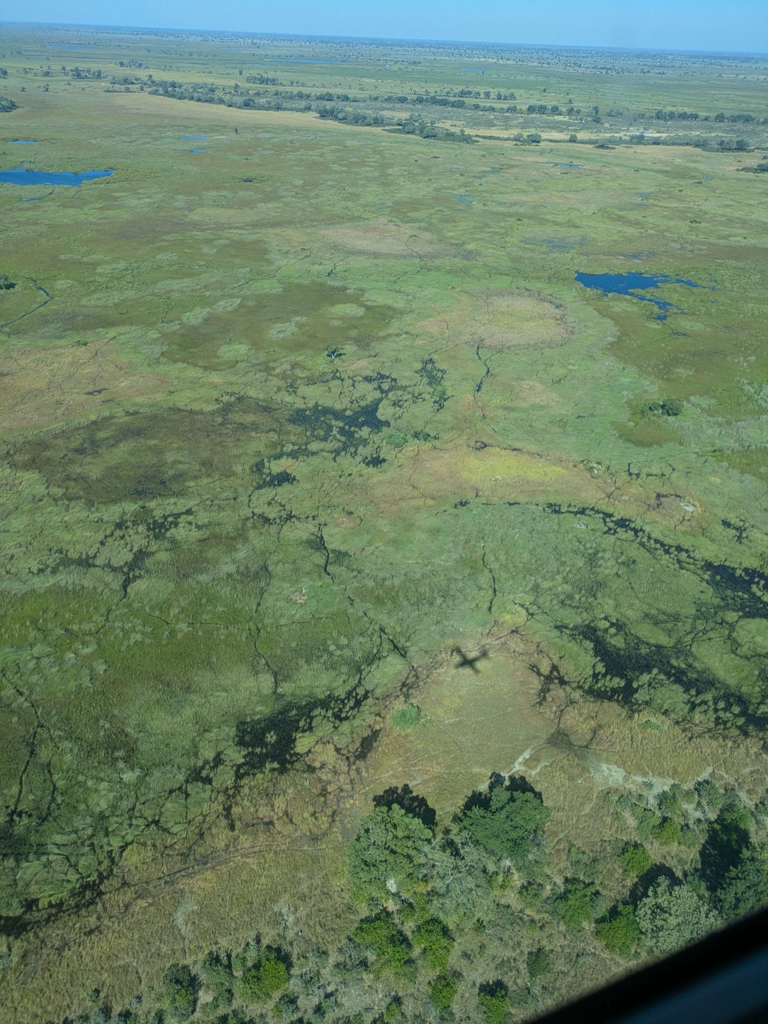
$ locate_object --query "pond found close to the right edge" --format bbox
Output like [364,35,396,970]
[565,273,731,343]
